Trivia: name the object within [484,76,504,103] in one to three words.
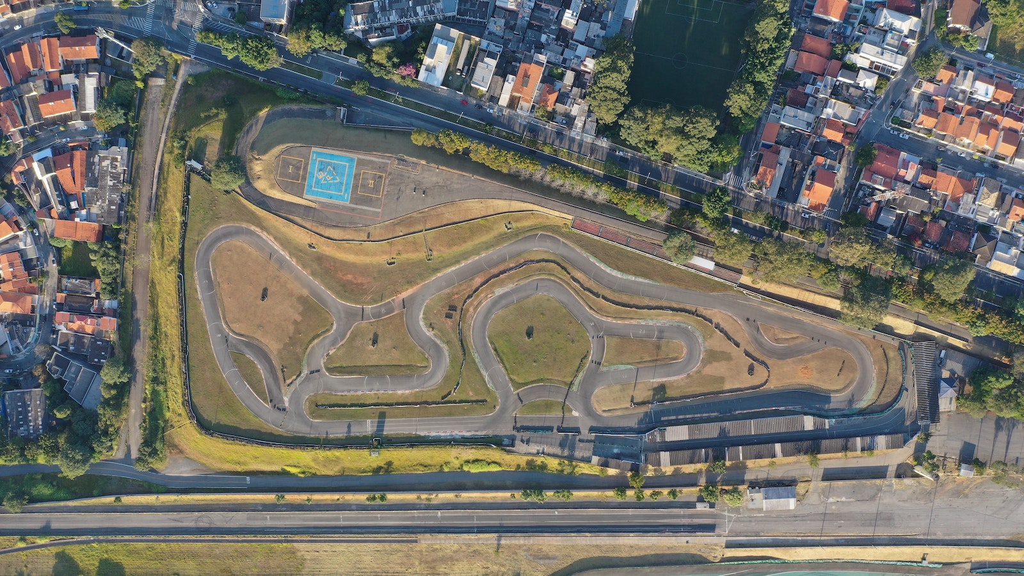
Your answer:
house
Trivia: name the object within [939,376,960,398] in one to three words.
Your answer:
tent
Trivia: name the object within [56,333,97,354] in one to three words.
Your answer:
house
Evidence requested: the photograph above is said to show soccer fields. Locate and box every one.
[629,0,757,125]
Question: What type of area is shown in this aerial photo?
residential area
